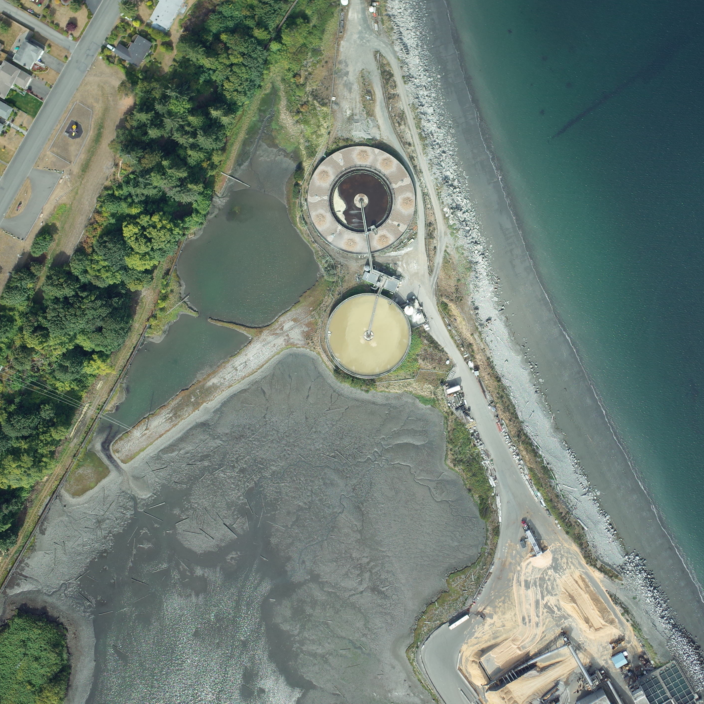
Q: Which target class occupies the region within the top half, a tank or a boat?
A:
tank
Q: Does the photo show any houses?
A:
Yes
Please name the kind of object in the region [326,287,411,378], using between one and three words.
storage tank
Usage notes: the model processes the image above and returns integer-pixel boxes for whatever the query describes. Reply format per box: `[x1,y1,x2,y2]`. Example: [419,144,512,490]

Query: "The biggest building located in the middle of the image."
[356,269,400,293]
